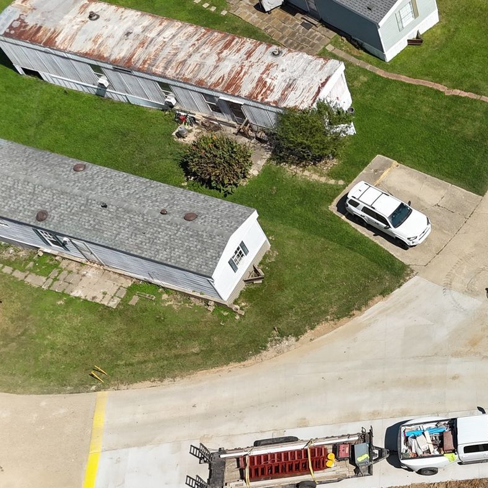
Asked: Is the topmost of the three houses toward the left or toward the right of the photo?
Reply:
right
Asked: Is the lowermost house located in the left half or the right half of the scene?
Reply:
left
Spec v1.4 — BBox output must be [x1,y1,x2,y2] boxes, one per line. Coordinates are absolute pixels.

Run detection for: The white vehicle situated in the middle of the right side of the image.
[344,180,432,249]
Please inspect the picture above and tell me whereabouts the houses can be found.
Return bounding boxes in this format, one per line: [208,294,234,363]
[287,0,442,63]
[0,0,360,143]
[0,141,270,304]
